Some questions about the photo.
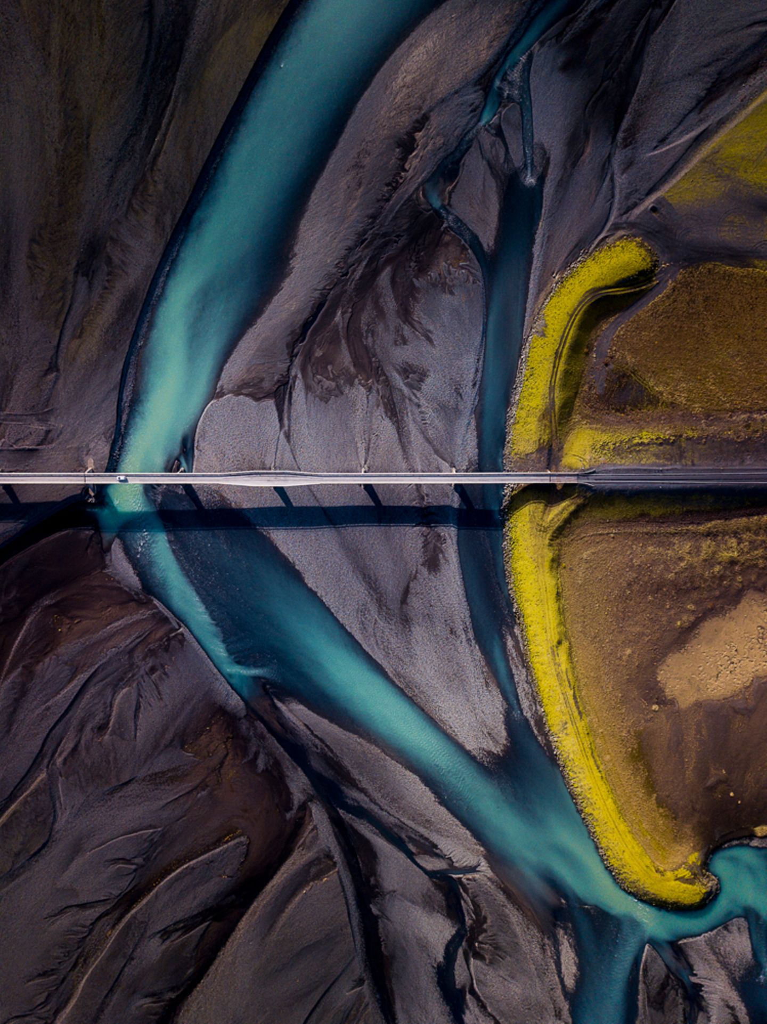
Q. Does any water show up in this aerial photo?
Yes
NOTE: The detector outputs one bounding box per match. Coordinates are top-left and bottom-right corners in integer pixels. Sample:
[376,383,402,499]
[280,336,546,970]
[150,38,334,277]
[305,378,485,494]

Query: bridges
[0,469,593,493]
